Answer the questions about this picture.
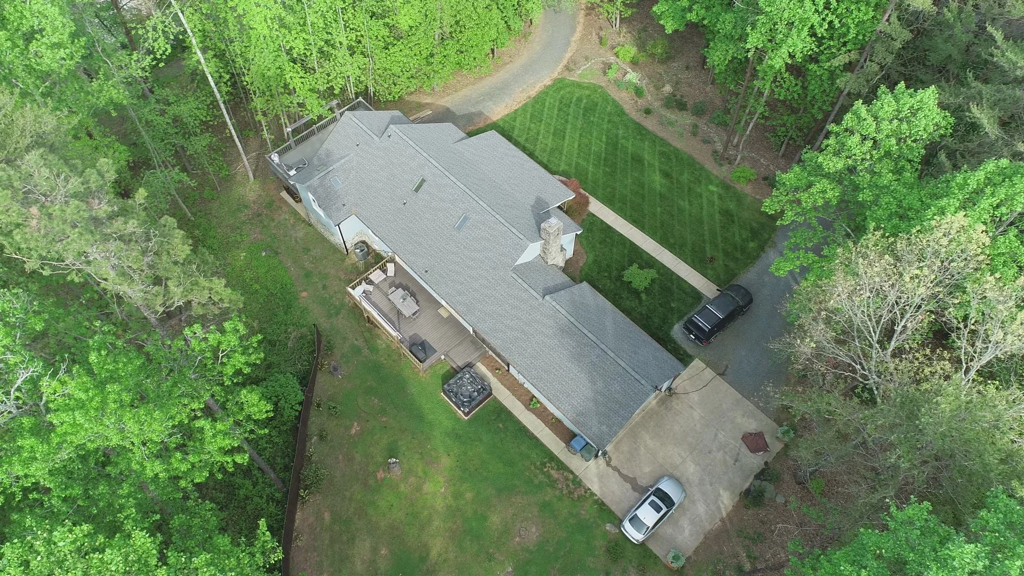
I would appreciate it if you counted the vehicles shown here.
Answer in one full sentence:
In total, 2 vehicles can be seen.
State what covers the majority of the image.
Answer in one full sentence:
What you mostly see from above here is trees.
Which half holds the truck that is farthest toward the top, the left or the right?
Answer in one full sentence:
It is on the right.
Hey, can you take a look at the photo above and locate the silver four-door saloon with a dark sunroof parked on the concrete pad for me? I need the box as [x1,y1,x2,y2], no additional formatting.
[622,471,688,544]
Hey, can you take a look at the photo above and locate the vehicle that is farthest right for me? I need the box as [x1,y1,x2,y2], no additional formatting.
[680,280,751,350]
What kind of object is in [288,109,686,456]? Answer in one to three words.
house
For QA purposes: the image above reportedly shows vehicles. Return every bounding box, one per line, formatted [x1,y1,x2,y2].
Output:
[680,280,751,350]
[622,471,688,544]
